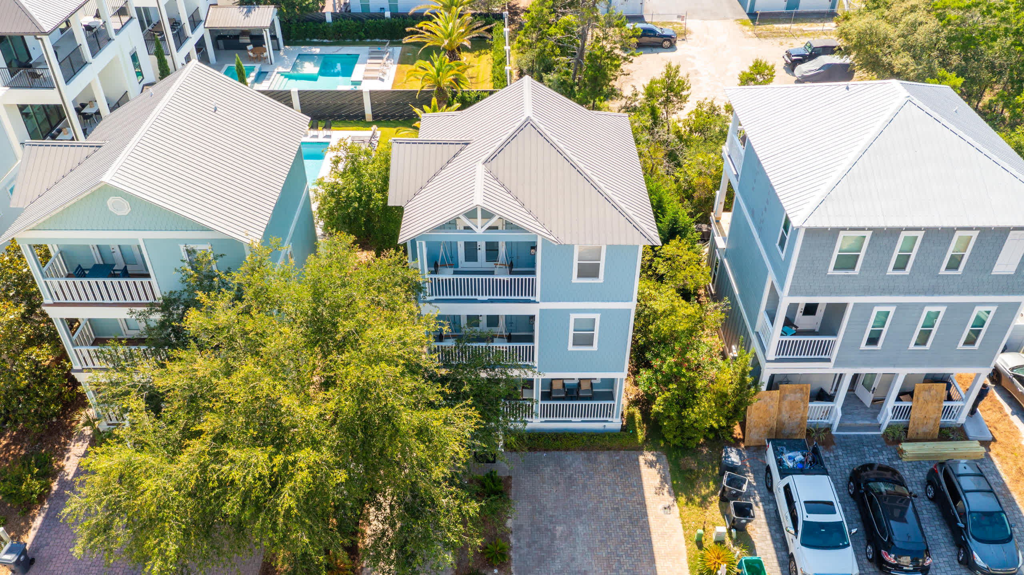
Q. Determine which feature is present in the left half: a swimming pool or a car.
swimming pool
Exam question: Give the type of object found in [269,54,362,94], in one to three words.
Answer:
swimming pool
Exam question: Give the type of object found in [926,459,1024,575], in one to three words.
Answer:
car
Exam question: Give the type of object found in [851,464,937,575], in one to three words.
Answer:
car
